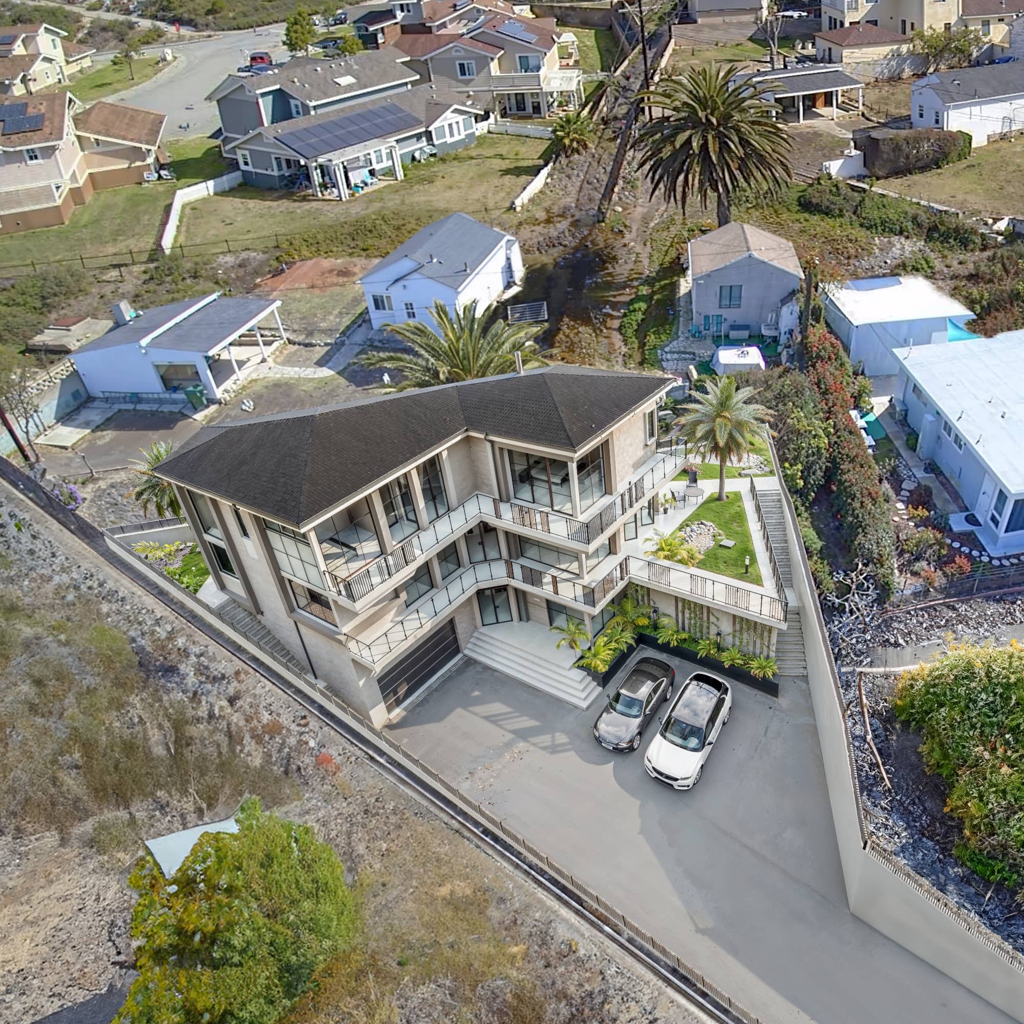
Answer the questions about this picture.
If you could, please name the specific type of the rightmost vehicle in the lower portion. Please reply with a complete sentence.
It turns out the rightmost vehicle in the lower portion is an automobile.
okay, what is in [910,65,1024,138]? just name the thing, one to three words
house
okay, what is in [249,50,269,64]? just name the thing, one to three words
car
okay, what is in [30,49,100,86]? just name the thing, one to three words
house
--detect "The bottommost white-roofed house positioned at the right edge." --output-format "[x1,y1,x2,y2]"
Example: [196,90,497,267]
[893,329,1024,571]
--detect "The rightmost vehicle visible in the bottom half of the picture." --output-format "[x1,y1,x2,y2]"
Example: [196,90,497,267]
[635,674,728,798]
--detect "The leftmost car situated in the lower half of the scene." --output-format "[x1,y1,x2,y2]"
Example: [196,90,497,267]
[585,661,672,759]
